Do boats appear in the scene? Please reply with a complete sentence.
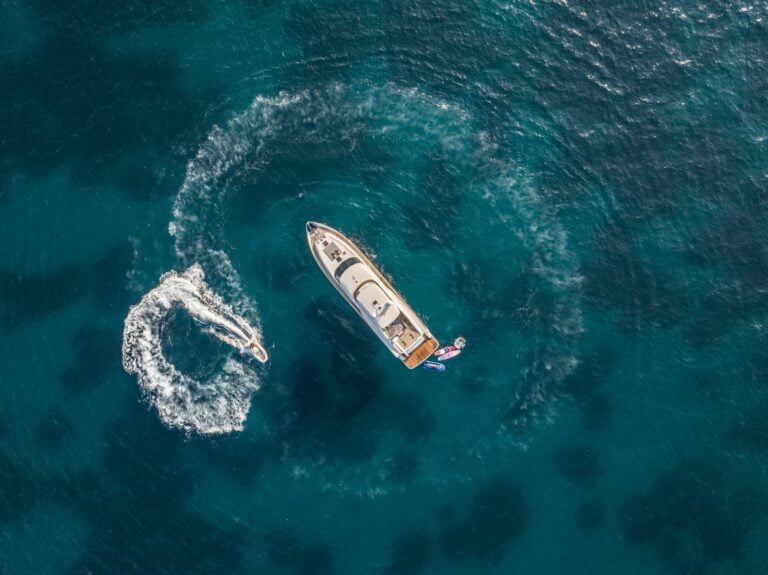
Yes, a boat appears in the view.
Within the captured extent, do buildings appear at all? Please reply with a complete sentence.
No, there appears to be no building in this shot.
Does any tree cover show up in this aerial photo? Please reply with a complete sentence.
No, there's no tree cover in this view.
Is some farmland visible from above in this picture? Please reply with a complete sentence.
No, the scene doesn't show any farmland.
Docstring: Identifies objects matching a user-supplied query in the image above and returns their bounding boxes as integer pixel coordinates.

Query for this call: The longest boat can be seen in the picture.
[305,220,437,367]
